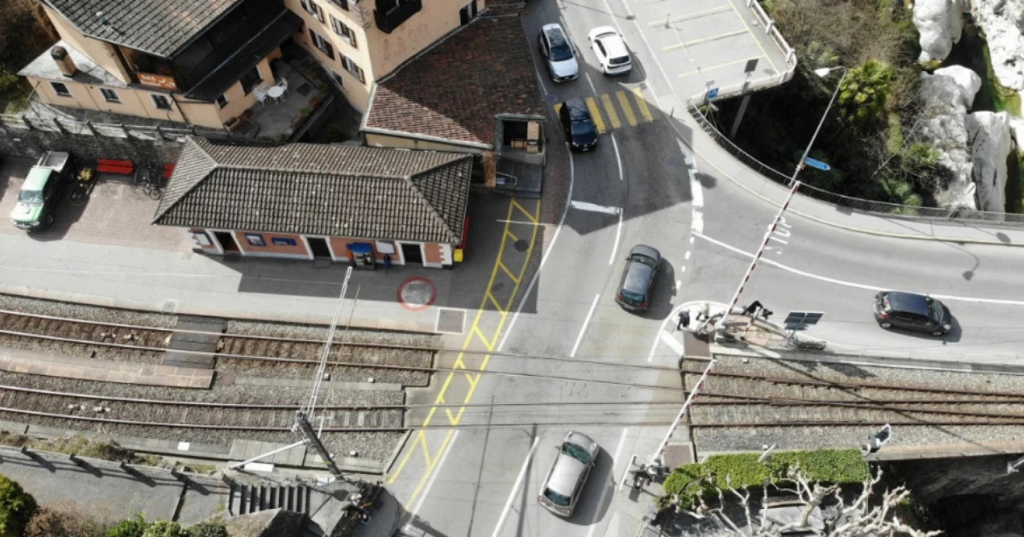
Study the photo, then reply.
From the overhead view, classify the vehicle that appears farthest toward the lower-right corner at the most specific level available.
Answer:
automobile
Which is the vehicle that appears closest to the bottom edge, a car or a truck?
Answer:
car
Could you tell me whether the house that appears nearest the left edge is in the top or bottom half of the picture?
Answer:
top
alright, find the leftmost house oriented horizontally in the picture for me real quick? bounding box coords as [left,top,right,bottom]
[11,0,299,128]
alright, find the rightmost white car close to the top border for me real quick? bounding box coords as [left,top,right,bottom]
[591,20,636,75]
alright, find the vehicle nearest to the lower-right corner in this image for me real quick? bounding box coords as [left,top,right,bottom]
[874,287,955,335]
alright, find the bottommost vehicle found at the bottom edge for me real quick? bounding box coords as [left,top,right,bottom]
[539,426,602,519]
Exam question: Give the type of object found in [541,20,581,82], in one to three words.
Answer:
car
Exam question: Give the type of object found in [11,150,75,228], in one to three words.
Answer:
vehicle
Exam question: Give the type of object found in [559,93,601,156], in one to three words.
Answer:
car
